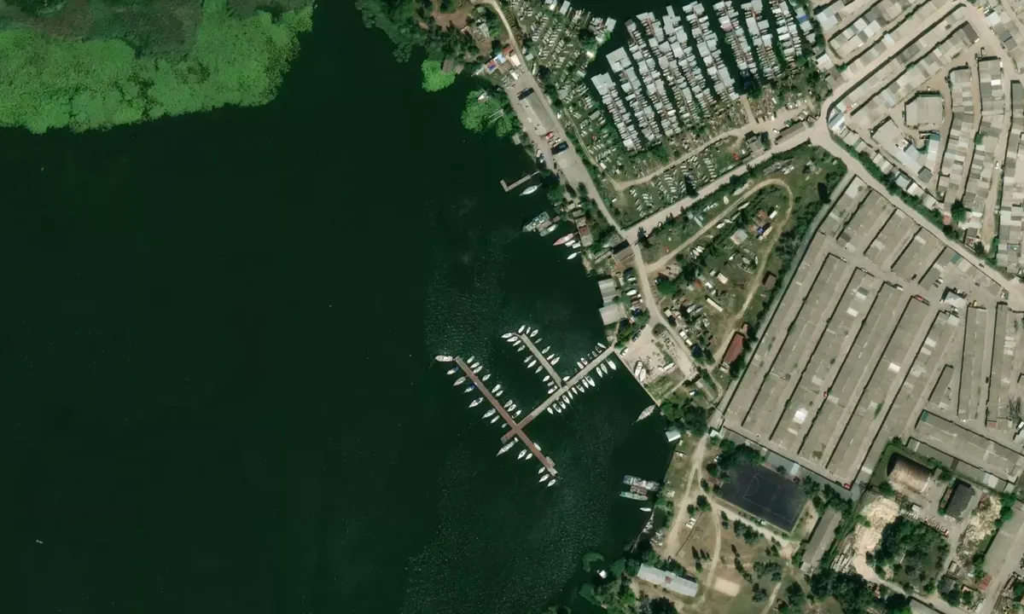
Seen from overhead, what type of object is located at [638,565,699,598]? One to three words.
building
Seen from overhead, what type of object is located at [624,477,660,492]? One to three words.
ship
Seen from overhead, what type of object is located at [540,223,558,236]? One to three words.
boat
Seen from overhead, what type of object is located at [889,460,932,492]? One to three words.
hangar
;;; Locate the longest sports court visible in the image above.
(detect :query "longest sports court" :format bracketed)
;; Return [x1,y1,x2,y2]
[718,458,810,535]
